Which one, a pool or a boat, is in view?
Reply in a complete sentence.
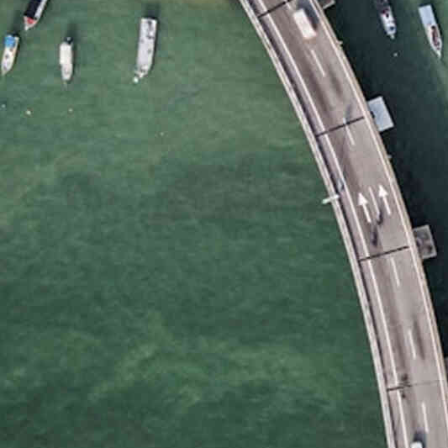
There is a boat in the scene.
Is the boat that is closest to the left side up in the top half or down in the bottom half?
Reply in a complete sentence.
The boat that is closest to the left side is in the top half of the image.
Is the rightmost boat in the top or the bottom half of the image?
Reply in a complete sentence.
The top half of the photo is where the rightmost boat is.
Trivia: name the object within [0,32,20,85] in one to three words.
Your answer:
boat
